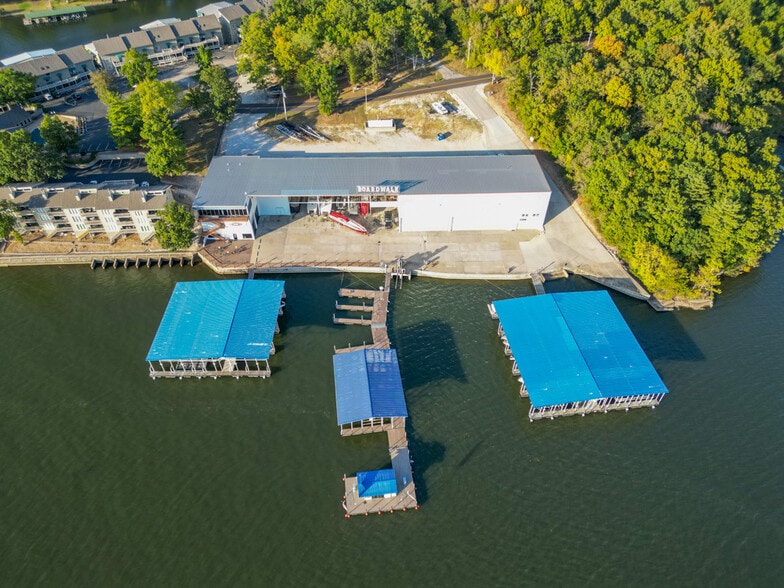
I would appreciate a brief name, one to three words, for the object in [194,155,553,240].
building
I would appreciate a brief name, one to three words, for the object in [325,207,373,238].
boat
